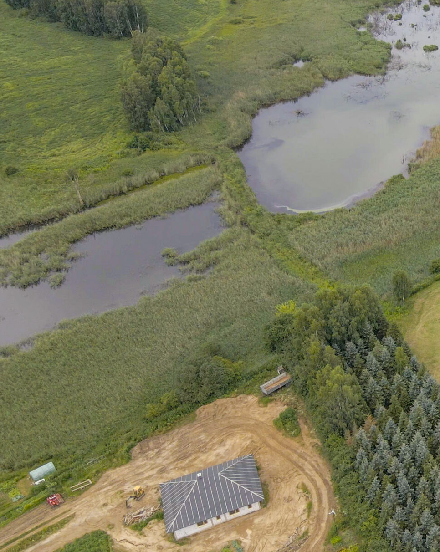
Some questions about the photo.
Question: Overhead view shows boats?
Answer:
No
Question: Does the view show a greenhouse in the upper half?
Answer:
No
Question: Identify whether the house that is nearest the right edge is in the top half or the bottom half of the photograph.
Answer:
bottom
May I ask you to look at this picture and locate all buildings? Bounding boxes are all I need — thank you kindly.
[25,462,58,488]
[160,453,263,539]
